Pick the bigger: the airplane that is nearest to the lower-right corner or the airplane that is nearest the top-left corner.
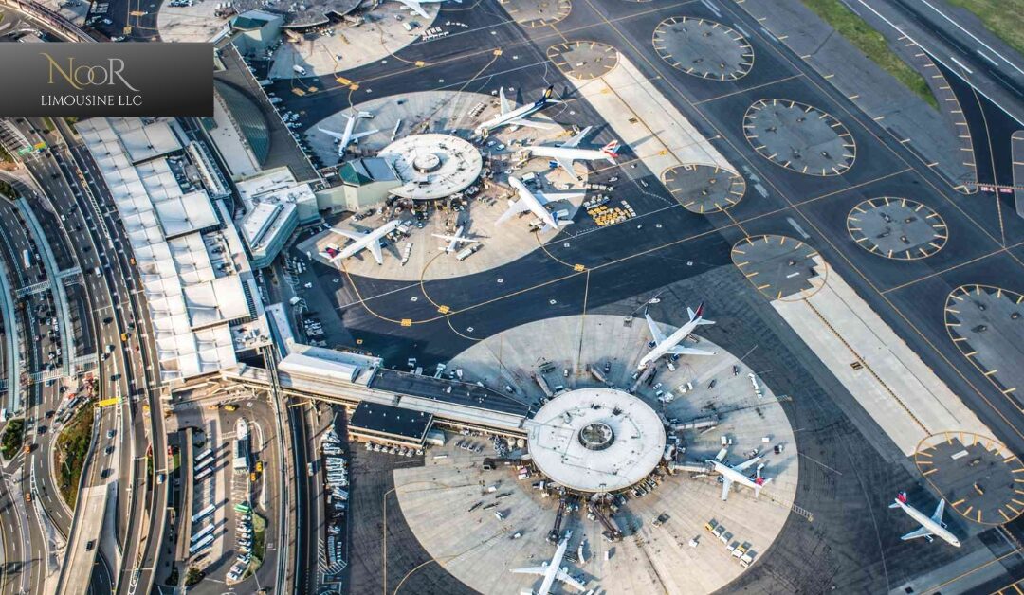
the airplane that is nearest to the lower-right corner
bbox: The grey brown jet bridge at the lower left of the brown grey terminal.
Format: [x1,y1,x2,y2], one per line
[283,28,302,45]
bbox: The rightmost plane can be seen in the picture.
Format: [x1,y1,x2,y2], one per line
[886,489,961,548]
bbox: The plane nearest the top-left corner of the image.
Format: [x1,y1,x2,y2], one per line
[318,102,379,156]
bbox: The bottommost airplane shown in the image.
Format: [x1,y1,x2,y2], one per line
[515,531,589,595]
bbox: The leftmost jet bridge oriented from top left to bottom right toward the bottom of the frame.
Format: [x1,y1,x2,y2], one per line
[529,372,557,399]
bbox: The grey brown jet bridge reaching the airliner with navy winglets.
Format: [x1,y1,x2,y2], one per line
[628,362,656,397]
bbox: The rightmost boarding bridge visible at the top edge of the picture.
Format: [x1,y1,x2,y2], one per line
[344,13,363,27]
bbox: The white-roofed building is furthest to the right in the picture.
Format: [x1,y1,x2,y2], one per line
[522,388,665,497]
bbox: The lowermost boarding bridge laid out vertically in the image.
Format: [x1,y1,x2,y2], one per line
[551,486,567,542]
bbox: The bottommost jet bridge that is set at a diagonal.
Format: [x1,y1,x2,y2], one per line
[588,497,621,541]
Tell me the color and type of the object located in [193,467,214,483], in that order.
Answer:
white vehicle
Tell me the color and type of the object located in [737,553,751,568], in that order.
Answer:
white vehicle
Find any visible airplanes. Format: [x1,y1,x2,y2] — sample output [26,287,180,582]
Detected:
[886,489,961,548]
[495,174,582,230]
[523,124,626,177]
[433,229,477,253]
[707,459,774,502]
[515,531,589,595]
[639,302,722,368]
[476,80,564,134]
[317,219,400,265]
[318,102,379,156]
